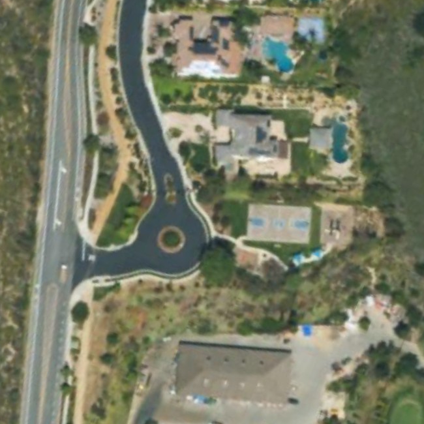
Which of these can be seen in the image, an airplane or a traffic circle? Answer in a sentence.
This aerial view contains a traffic circle.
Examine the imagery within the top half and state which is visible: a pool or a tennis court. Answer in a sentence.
You can see a pool within the top half.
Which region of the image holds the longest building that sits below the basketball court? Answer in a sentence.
The longest building that sits below the basketball court appears toward the bottom of the photo.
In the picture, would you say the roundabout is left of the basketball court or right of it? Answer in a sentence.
From the viewer's perspective, the roundabout falls to the left of the basketball court.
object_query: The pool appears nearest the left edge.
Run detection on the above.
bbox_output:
[263,37,295,73]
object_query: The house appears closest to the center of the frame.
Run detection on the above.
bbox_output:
[216,109,288,164]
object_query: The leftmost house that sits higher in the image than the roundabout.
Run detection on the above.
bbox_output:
[170,10,244,77]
